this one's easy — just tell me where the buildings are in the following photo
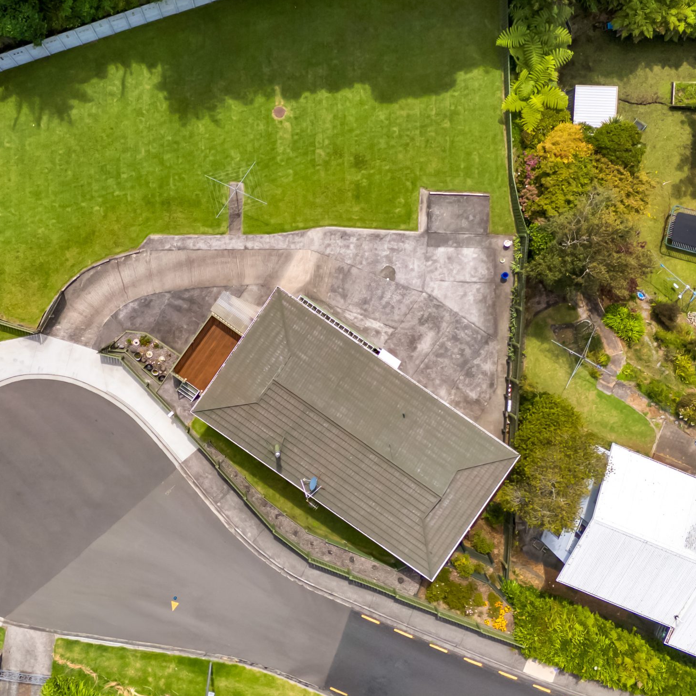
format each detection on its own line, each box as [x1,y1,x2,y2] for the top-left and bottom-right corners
[547,442,696,659]
[562,85,623,131]
[191,286,522,583]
